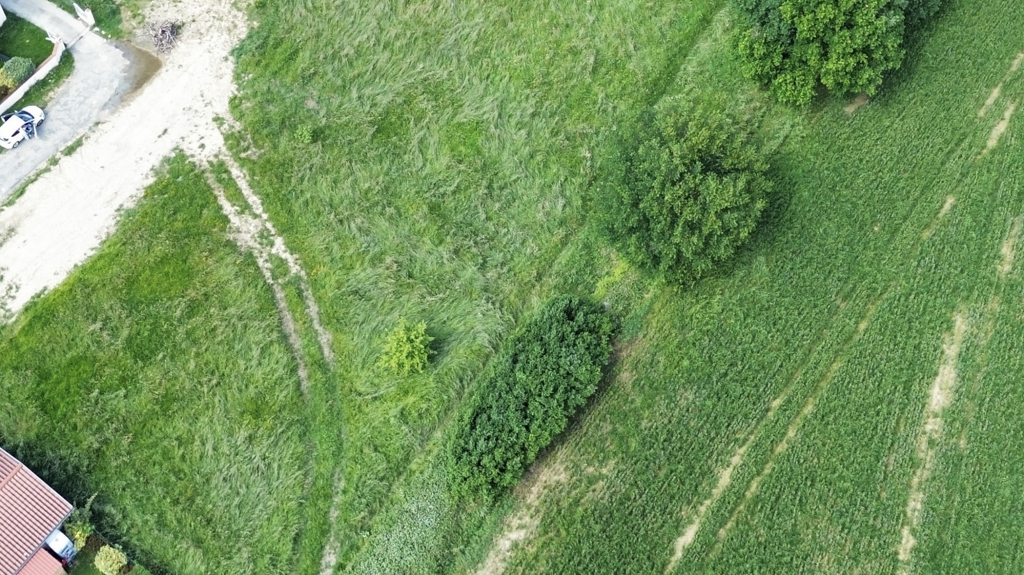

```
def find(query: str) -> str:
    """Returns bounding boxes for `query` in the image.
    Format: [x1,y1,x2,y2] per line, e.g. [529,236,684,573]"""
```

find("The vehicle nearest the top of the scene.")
[0,104,46,149]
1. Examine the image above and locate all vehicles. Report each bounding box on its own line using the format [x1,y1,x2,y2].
[0,104,46,149]
[45,531,80,563]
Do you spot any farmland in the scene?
Yes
